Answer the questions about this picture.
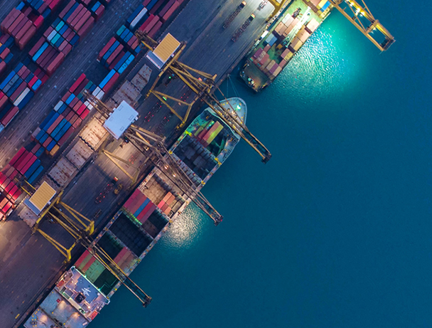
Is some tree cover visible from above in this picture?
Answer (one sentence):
No, there is no tree cover in the image.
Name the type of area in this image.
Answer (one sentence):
This looks like a port.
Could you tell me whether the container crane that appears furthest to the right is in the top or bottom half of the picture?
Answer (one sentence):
Seen from above, the container crane that appears furthest to the right lies in the top half of the view.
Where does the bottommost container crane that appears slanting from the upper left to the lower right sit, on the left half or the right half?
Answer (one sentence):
The bottommost container crane that appears slanting from the upper left to the lower right appears in the left half of the scene.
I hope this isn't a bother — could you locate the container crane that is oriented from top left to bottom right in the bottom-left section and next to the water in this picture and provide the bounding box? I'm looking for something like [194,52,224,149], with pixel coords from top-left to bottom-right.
[10,168,155,310]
